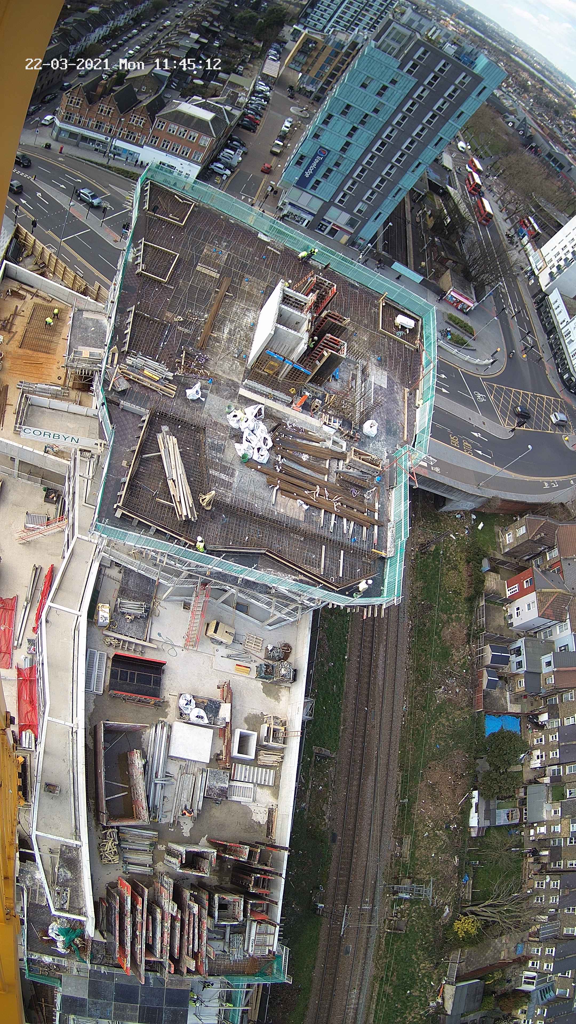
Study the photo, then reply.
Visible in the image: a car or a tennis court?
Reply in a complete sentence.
It is a car that can be seen here.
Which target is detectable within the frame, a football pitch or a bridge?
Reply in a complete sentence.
The one in the frame is a bridge.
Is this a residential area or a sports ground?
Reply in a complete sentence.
The area seen from above is a residential area.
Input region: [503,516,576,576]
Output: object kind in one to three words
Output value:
house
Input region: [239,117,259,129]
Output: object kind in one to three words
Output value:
vehicle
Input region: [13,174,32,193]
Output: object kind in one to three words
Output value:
car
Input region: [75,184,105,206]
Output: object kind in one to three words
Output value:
car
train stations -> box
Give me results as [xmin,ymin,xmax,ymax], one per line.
[370,166,461,288]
